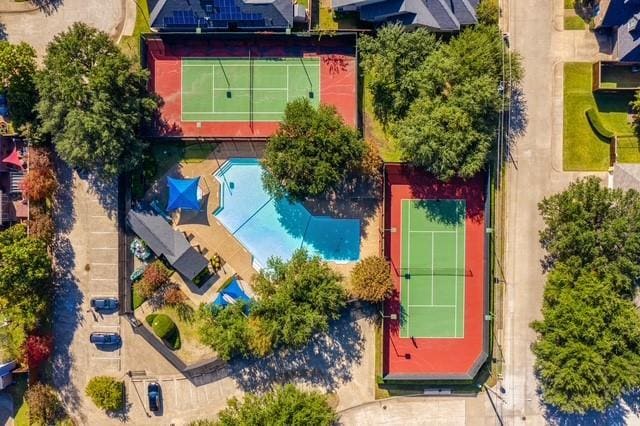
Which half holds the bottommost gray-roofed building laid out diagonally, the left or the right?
left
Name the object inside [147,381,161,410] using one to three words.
car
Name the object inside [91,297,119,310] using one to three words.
vehicle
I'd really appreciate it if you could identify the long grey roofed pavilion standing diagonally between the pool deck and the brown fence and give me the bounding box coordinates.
[128,201,209,281]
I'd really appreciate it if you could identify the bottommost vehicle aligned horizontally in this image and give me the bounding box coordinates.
[91,332,122,345]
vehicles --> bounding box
[147,381,161,410]
[91,332,122,345]
[91,297,119,310]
